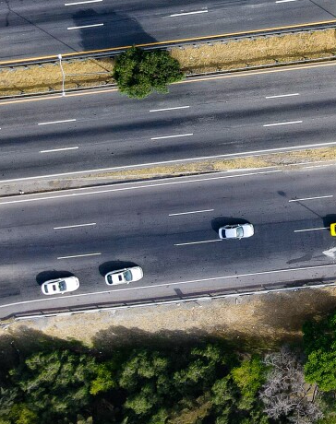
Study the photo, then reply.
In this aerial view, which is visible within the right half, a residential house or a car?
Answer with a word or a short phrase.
car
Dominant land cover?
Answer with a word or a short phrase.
paved ground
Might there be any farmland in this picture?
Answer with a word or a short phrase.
No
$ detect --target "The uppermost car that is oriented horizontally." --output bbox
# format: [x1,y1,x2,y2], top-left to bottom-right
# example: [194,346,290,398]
[218,221,256,240]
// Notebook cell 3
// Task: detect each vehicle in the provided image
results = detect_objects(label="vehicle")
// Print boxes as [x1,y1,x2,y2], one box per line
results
[40,274,81,294]
[218,221,256,240]
[104,265,144,286]
[330,222,336,236]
